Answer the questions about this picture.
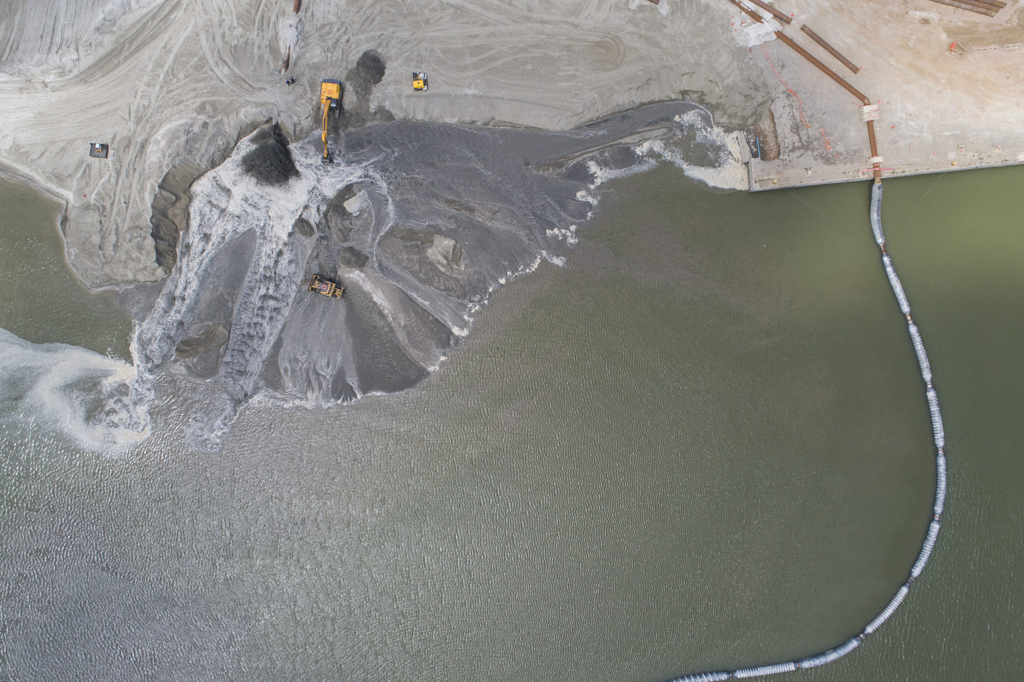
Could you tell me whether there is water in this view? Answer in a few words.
Yes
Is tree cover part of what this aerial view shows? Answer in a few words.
No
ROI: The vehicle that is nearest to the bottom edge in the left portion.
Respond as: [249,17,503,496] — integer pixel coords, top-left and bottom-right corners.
[305,272,344,298]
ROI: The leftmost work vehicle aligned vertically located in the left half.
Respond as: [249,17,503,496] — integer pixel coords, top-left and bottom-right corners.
[319,79,346,164]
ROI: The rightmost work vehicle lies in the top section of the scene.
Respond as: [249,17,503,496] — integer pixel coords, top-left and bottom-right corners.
[413,71,429,93]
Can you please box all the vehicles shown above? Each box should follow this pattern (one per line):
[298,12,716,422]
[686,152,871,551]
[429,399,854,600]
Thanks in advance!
[413,71,429,93]
[319,79,346,164]
[305,272,344,298]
